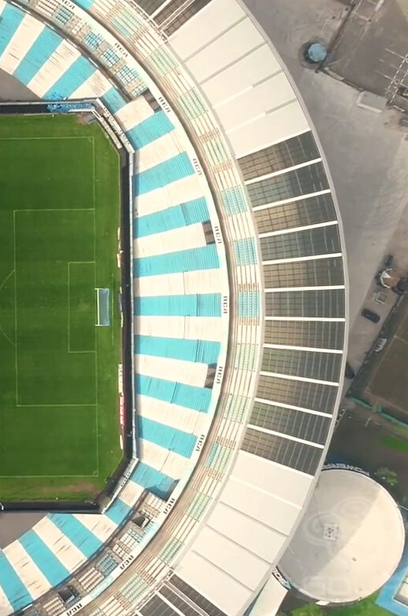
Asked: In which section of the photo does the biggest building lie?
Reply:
bottom right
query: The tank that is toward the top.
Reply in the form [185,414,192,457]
[297,42,326,68]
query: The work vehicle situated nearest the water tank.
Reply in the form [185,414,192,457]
[388,89,408,101]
